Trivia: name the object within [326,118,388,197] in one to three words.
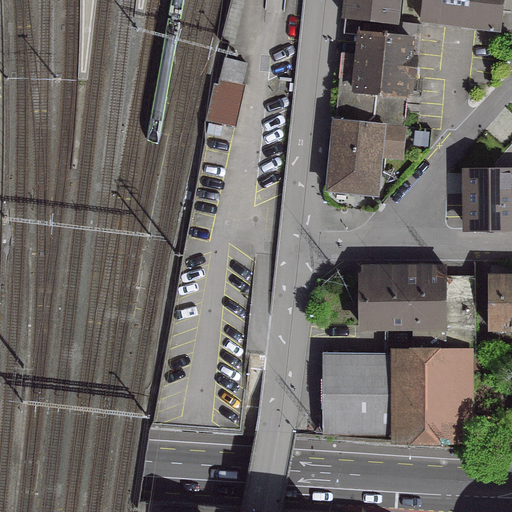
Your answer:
house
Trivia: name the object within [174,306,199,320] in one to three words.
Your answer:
vehicle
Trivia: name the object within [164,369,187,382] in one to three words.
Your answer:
vehicle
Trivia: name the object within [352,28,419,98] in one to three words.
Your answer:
house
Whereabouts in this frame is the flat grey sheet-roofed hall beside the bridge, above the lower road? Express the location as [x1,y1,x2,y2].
[321,352,390,438]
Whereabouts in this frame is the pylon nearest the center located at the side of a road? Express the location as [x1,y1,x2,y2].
[321,269,354,304]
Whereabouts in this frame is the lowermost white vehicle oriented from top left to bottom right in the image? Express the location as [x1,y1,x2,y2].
[217,361,240,382]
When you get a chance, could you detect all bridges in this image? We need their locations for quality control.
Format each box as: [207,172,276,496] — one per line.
[242,430,298,512]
